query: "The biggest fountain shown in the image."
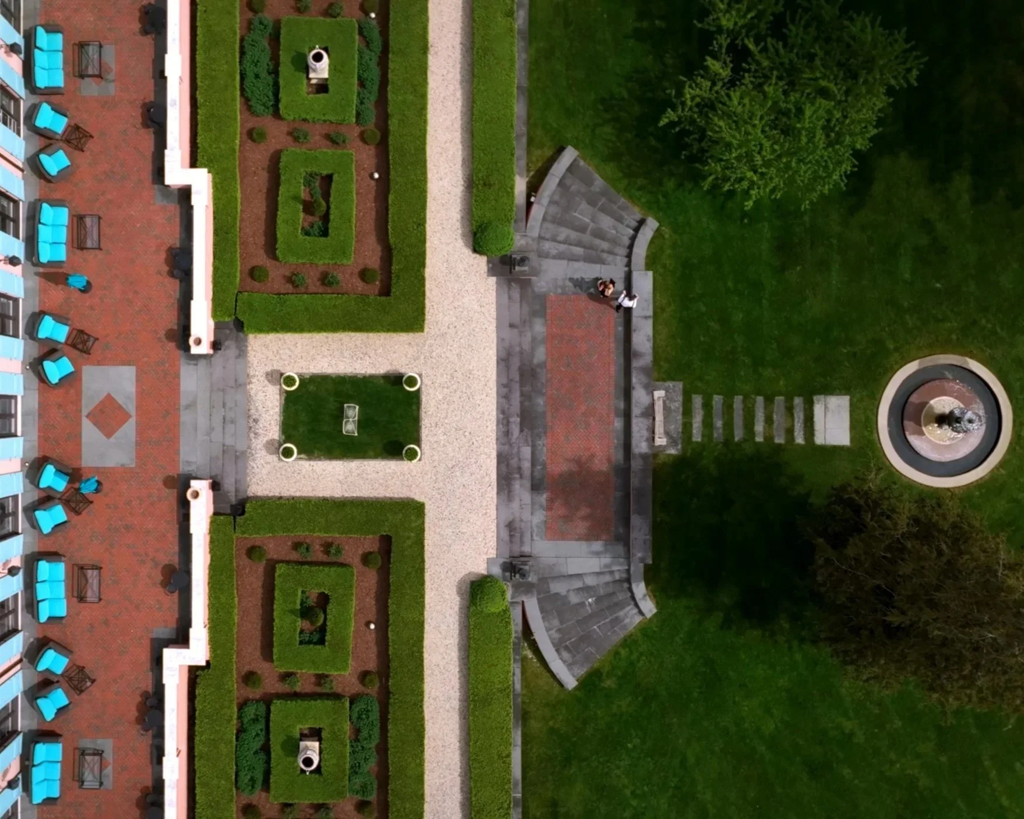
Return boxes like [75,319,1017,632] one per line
[875,354,1011,488]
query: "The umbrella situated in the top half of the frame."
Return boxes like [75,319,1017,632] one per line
[62,271,92,291]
